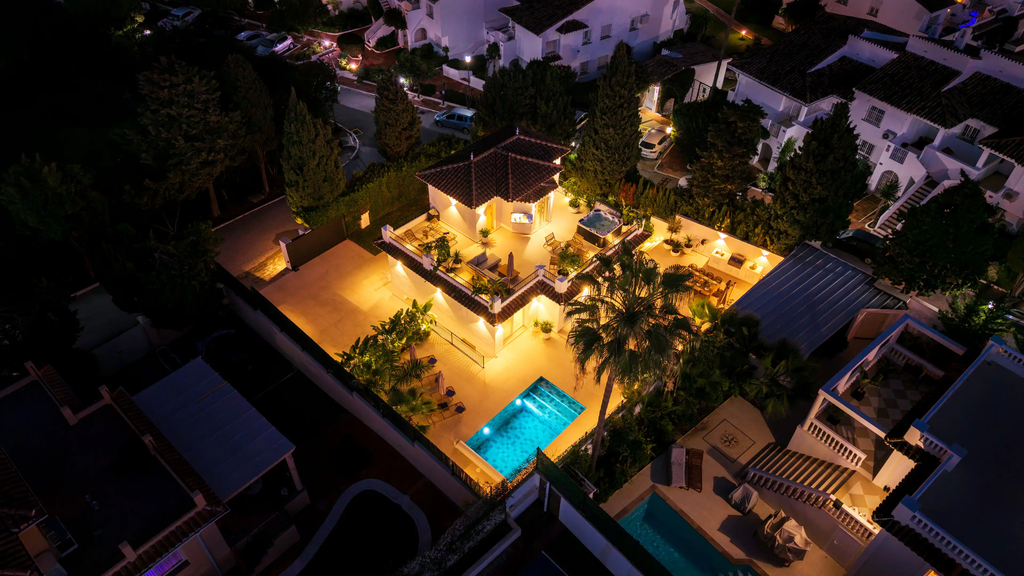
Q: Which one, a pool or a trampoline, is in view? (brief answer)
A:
pool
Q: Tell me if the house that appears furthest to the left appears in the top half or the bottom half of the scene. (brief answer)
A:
bottom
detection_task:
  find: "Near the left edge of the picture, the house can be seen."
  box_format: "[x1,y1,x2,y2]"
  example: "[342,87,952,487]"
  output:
[0,368,229,576]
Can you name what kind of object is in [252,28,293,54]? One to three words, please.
car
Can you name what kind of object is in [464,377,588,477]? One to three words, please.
swimming pool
